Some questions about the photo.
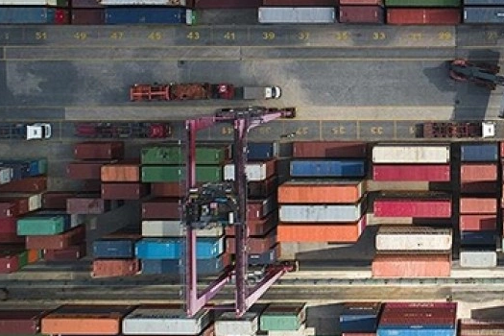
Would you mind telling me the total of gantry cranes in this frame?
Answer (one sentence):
The picture shows 1 gantry crane.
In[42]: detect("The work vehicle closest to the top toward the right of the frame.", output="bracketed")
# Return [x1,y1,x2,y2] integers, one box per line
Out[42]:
[445,54,504,90]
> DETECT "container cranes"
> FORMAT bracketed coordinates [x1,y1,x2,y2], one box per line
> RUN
[170,106,295,322]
